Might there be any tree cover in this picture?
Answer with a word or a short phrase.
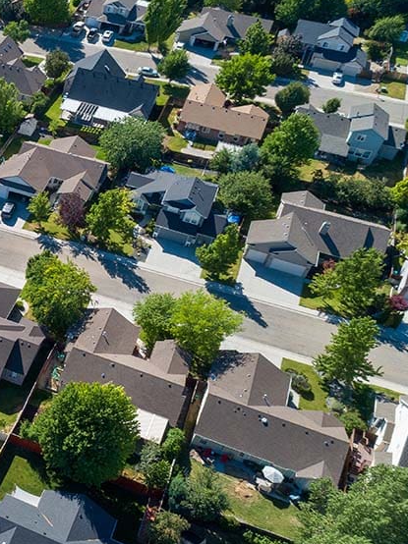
Yes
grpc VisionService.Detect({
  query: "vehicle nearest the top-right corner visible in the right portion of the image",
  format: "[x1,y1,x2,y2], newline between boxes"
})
[331,71,345,86]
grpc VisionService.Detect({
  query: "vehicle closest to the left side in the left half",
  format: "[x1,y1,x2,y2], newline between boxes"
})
[1,200,16,219]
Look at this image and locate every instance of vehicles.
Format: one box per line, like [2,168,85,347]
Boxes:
[137,69,160,79]
[103,31,113,41]
[331,71,345,86]
[1,200,16,219]
[72,20,85,34]
[86,27,98,41]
